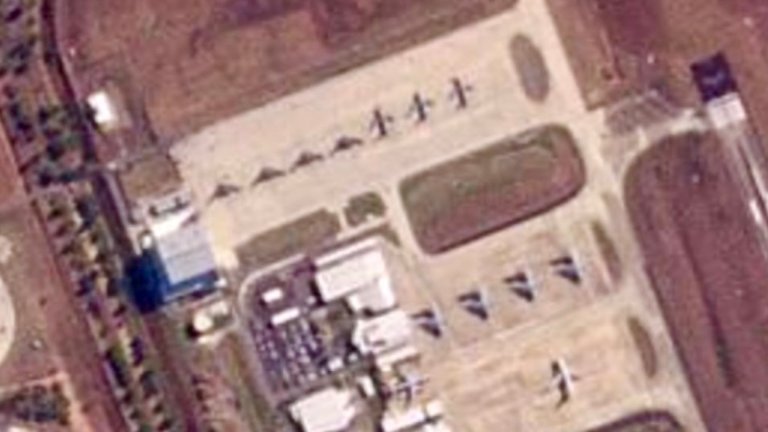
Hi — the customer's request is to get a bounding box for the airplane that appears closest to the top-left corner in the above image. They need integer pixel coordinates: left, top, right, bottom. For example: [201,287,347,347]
[211,181,245,202]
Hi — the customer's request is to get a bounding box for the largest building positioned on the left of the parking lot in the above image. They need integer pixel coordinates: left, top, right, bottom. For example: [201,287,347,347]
[156,220,219,307]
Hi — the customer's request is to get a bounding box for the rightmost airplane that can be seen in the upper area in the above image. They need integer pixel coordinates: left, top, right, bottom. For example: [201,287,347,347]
[448,80,470,106]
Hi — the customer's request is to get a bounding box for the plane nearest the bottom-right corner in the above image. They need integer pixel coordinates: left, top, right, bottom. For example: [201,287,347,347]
[548,357,587,399]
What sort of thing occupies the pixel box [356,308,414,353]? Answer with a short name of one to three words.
hangar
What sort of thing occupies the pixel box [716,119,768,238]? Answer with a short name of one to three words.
runway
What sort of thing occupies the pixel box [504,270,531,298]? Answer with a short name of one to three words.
airplane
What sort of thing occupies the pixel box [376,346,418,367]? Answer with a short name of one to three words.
shed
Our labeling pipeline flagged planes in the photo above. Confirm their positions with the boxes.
[211,181,245,202]
[292,150,327,171]
[552,252,578,279]
[413,305,440,333]
[409,93,430,119]
[504,270,531,298]
[254,167,288,188]
[548,357,587,399]
[458,288,484,316]
[448,80,470,106]
[332,134,366,156]
[391,371,425,398]
[370,110,392,136]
